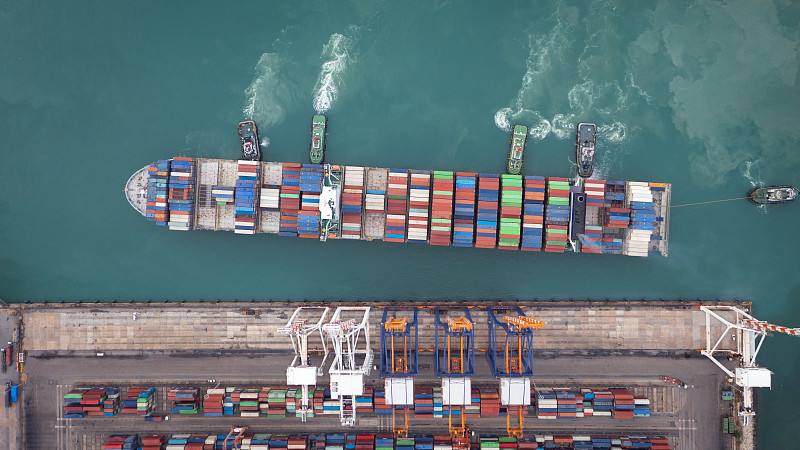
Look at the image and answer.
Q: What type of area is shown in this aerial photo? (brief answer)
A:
port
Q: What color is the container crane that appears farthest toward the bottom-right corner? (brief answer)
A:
white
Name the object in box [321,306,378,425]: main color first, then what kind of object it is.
white container crane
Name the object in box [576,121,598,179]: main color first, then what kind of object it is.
gray boat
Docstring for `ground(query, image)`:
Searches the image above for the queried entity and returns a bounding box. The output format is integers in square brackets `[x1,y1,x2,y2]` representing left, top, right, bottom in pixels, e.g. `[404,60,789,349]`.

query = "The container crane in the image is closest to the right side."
[691,306,800,426]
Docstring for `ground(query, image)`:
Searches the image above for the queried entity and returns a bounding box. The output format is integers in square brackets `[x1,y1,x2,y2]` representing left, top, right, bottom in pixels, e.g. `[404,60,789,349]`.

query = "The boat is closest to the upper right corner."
[748,185,800,205]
